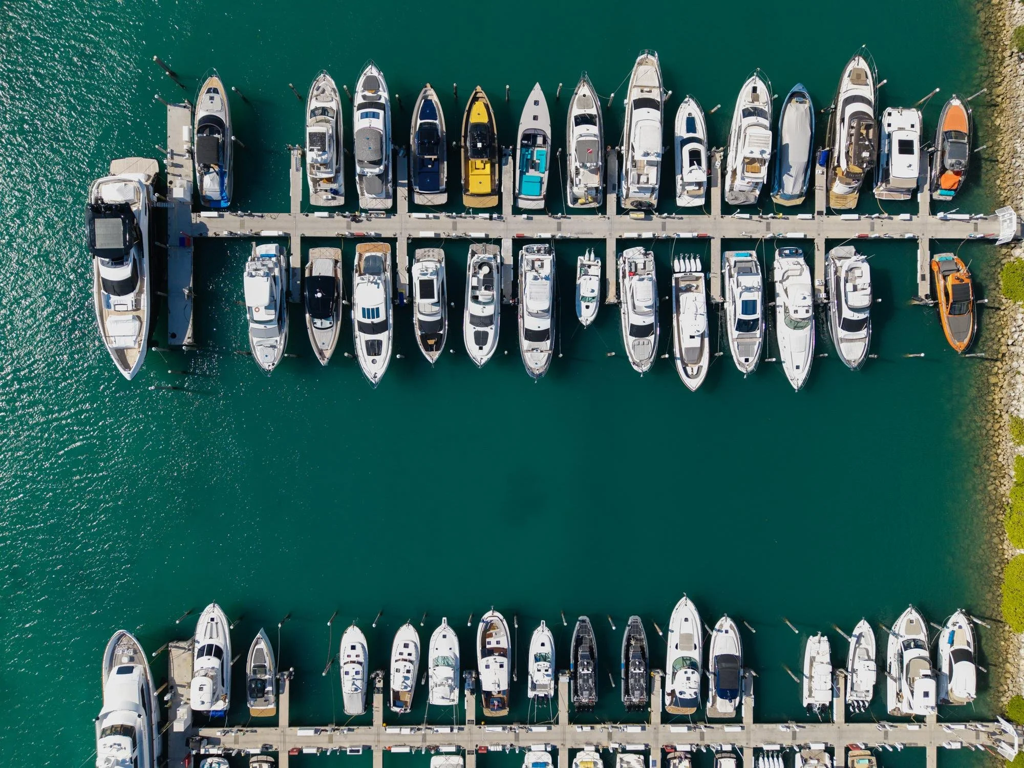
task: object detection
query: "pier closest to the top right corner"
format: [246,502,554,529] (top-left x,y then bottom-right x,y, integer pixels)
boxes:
[914,150,929,214]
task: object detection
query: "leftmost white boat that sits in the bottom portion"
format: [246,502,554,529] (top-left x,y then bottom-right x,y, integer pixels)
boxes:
[92,626,164,768]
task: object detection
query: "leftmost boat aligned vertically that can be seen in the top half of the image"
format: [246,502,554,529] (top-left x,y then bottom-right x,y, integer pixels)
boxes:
[87,157,161,379]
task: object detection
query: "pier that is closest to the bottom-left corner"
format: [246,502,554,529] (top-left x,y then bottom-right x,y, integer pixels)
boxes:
[169,645,195,768]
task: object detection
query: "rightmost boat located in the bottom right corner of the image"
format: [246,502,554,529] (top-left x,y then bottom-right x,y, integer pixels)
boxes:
[931,606,977,711]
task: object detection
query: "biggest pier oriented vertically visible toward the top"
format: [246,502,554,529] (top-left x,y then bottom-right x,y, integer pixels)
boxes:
[167,104,195,345]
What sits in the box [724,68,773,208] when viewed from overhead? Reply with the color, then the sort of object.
white boat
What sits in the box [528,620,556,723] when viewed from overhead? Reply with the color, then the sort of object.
white boat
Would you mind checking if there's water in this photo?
Yes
